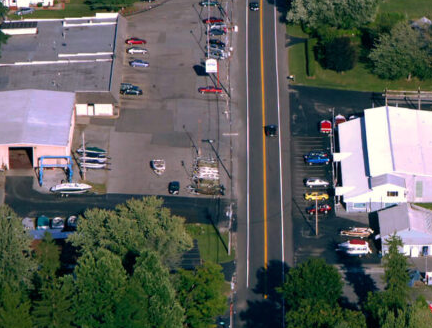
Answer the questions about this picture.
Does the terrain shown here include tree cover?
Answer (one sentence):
Yes, tree cover can be seen from above here.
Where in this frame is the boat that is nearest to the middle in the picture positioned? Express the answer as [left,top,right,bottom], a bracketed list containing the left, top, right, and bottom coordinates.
[154,157,167,173]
